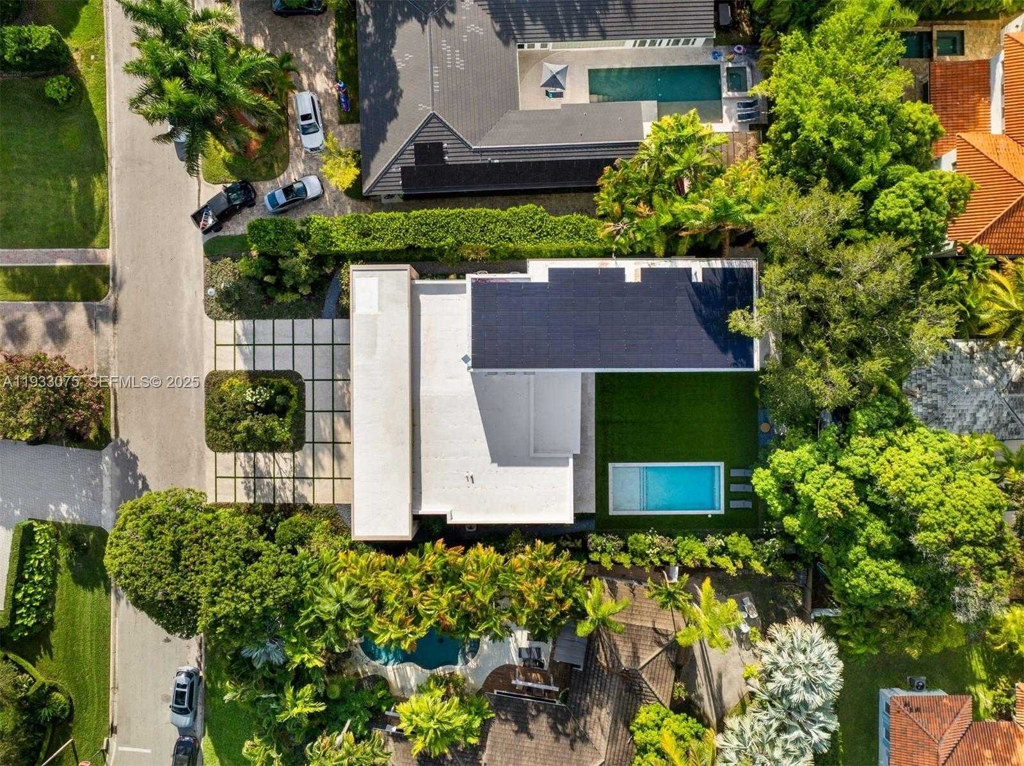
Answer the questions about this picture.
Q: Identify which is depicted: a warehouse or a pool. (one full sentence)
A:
Of the two, only a pool appears.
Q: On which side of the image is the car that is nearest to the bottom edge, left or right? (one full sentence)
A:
The car that is nearest to the bottom edge appears in the left half of the scene.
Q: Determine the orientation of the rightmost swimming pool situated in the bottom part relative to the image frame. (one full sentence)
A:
The rightmost swimming pool situated in the bottom part is oriented from side to side.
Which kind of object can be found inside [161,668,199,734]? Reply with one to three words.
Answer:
car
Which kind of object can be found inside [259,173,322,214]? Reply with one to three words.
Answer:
car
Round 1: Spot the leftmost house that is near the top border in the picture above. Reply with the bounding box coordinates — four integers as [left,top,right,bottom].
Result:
[356,0,718,198]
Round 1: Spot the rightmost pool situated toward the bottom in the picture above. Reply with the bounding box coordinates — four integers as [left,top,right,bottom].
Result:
[609,462,724,515]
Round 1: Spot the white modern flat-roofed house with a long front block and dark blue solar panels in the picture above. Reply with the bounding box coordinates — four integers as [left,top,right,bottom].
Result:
[350,258,759,540]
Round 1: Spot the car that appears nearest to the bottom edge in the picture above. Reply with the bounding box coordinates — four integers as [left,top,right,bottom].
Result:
[167,737,199,766]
